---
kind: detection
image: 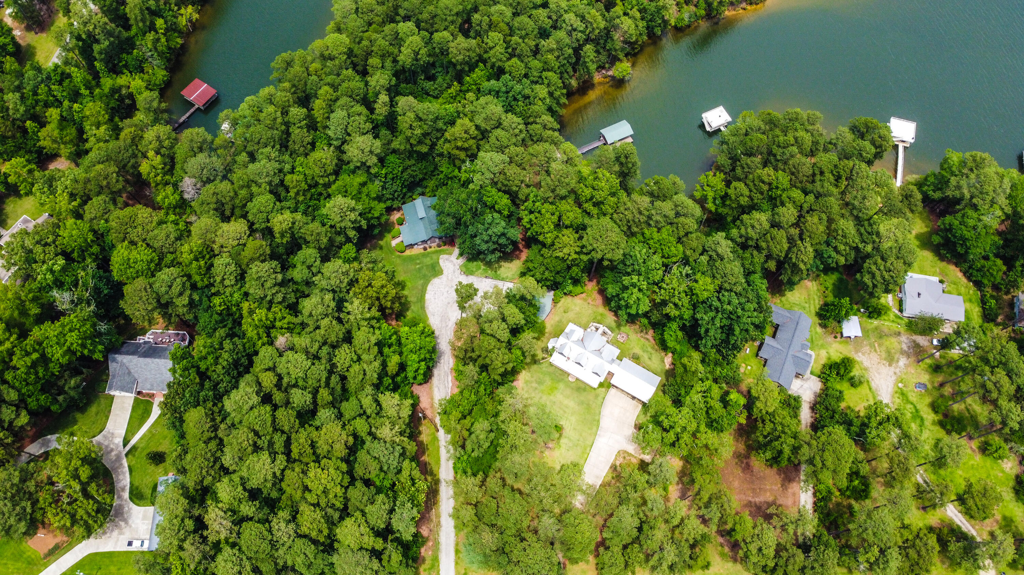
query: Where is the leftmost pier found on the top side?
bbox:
[702,104,732,132]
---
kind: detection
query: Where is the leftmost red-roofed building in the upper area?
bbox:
[180,78,218,110]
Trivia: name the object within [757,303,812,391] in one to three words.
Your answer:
house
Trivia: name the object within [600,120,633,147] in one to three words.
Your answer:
building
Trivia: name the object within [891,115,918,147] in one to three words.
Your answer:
pier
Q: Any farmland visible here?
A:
No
